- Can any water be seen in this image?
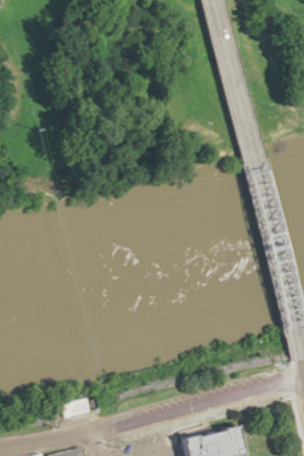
Yes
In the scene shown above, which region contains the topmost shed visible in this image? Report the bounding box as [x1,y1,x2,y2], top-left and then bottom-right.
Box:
[62,398,96,419]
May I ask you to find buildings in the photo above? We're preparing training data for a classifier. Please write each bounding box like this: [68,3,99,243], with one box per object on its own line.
[40,446,80,456]
[181,424,250,456]
[62,398,96,419]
